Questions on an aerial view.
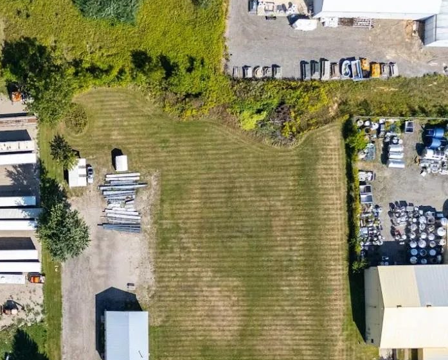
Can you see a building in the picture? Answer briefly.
Yes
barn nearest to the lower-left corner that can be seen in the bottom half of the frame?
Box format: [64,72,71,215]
[100,310,149,360]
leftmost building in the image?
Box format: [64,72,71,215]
[66,158,87,188]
